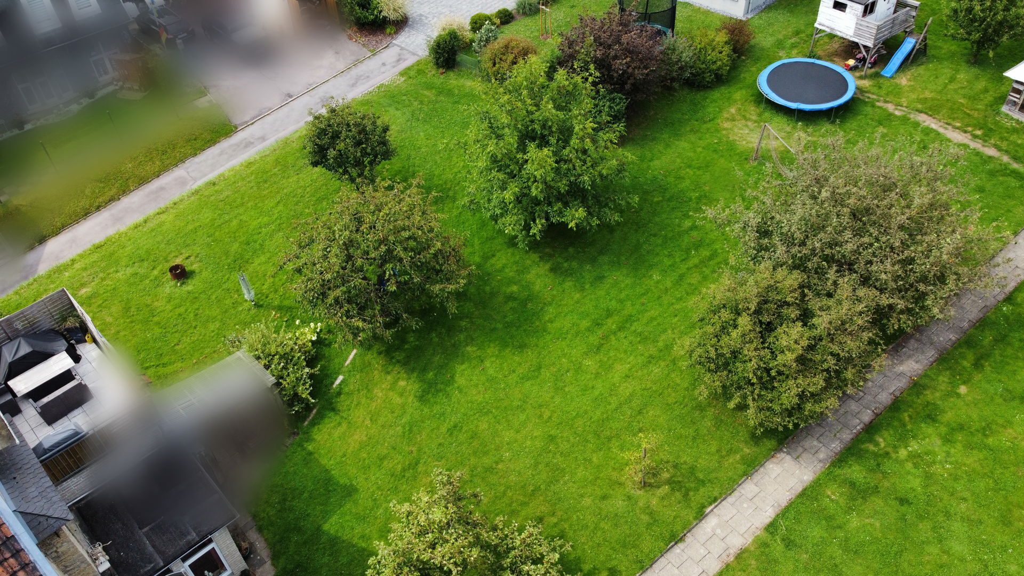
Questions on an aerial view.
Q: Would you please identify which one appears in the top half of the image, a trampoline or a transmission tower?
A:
trampoline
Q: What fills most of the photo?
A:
grass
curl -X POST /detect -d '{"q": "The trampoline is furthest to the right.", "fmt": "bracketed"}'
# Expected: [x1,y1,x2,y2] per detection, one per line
[754,58,857,128]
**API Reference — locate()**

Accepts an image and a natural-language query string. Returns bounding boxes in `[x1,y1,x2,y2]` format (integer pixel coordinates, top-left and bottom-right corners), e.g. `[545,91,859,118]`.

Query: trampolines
[754,58,857,128]
[611,0,680,54]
